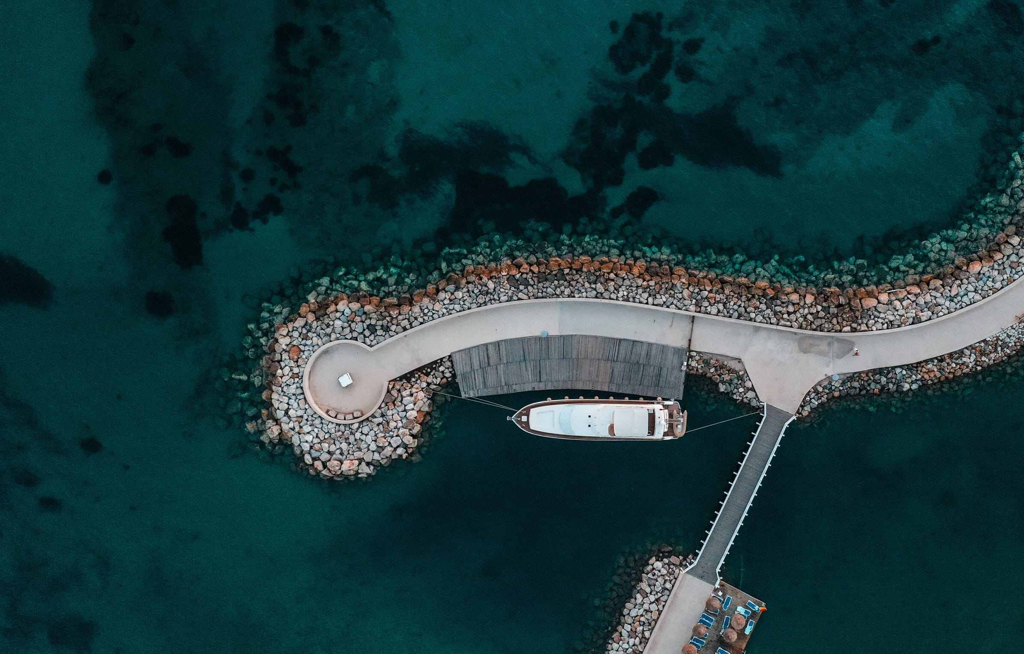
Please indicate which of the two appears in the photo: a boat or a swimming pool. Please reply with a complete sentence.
Visible in the photo is a boat.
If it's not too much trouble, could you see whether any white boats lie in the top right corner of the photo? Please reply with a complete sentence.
No, in the top right corner of the photo there is no white boat.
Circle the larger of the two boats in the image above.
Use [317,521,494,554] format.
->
[507,399,685,441]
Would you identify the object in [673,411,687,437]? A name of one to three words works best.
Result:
boat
